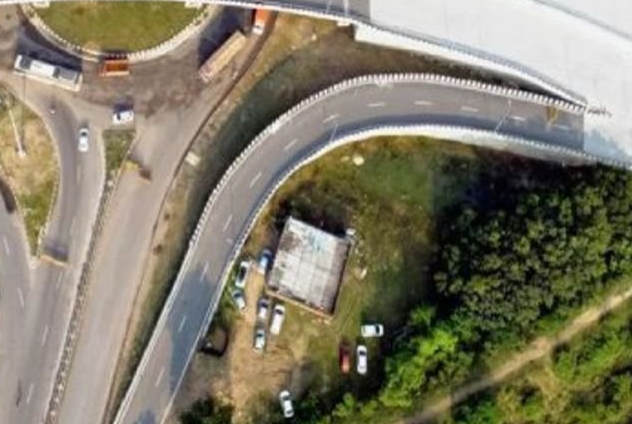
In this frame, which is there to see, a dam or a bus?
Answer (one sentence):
There is a bus in the scene.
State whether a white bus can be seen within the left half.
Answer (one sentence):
Yes, a white bus appears within the left half.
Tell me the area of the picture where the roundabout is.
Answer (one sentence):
The roundabout is located in the top left region of the scene.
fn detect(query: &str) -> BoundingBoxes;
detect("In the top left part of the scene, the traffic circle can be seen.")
[0,2,236,73]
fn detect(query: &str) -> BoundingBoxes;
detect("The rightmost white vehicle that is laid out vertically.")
[356,344,369,375]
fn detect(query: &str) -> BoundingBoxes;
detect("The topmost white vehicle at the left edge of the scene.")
[13,54,85,91]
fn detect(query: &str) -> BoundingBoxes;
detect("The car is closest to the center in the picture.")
[258,247,274,274]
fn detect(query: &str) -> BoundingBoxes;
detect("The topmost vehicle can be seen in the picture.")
[251,11,270,35]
